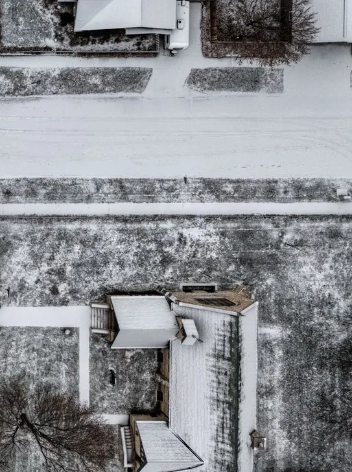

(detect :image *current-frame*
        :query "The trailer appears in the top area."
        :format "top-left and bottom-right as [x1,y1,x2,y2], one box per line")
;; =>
[159,0,188,64]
